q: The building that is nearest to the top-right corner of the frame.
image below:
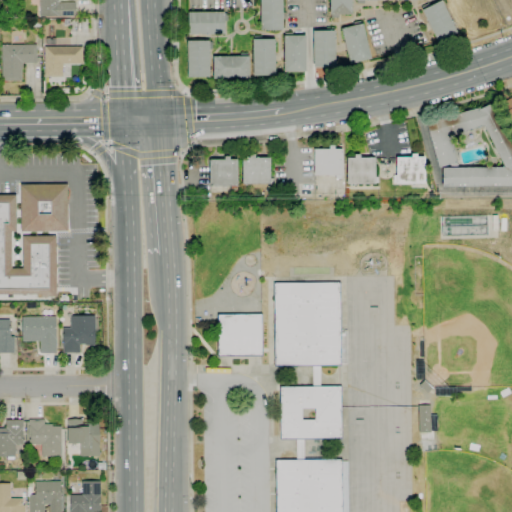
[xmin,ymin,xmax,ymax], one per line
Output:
[424,0,458,38]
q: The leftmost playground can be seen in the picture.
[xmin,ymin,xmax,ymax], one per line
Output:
[194,249,262,318]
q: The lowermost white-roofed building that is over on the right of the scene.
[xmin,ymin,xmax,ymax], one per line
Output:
[276,460,343,512]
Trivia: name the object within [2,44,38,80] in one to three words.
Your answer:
house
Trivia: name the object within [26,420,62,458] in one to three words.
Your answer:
house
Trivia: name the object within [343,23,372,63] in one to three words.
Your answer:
building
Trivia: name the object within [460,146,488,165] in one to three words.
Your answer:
swimming pool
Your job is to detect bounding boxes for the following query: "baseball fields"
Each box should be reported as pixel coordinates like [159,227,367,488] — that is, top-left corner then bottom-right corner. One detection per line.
[424,245,512,386]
